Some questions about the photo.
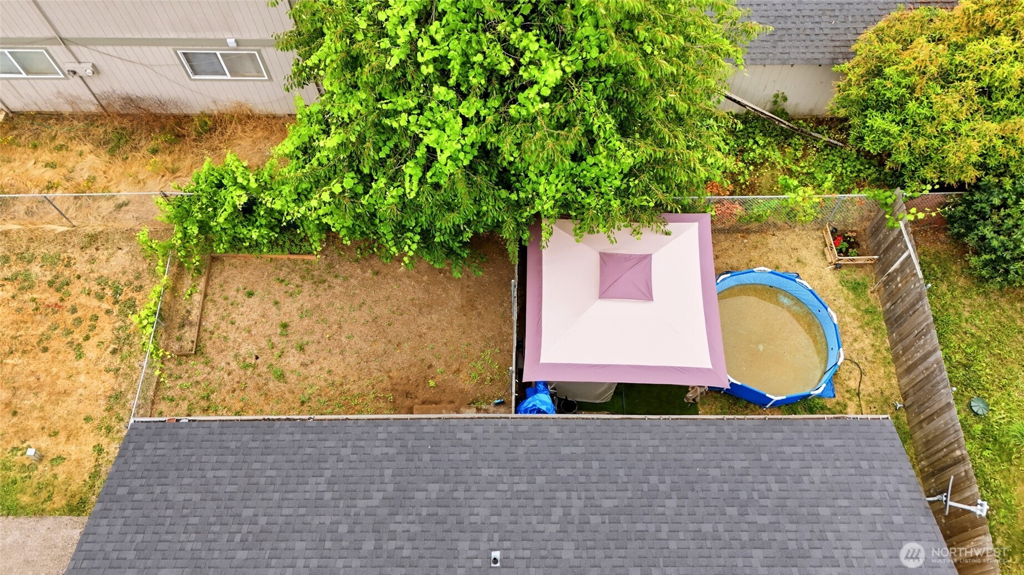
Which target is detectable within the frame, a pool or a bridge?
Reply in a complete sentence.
This aerial view contains a pool.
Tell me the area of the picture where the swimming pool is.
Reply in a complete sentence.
The swimming pool is located in the right region of the scene.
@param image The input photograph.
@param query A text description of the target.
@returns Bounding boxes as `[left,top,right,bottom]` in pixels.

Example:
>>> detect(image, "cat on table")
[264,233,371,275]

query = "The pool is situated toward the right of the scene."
[695,264,846,412]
